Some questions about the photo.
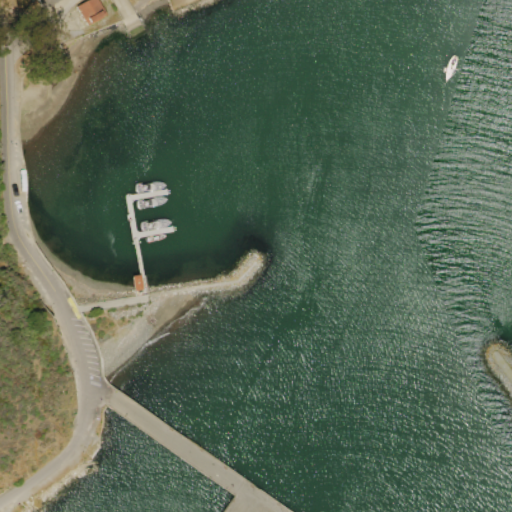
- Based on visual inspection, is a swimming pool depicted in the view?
No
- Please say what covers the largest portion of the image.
water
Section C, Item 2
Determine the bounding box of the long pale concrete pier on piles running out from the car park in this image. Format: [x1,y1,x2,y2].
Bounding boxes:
[107,386,296,512]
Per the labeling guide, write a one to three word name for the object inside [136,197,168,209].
boat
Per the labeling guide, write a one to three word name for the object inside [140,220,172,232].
boat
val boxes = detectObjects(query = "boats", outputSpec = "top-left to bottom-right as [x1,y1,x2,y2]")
[140,220,172,232]
[135,182,167,192]
[446,56,457,82]
[146,234,166,243]
[136,197,168,209]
